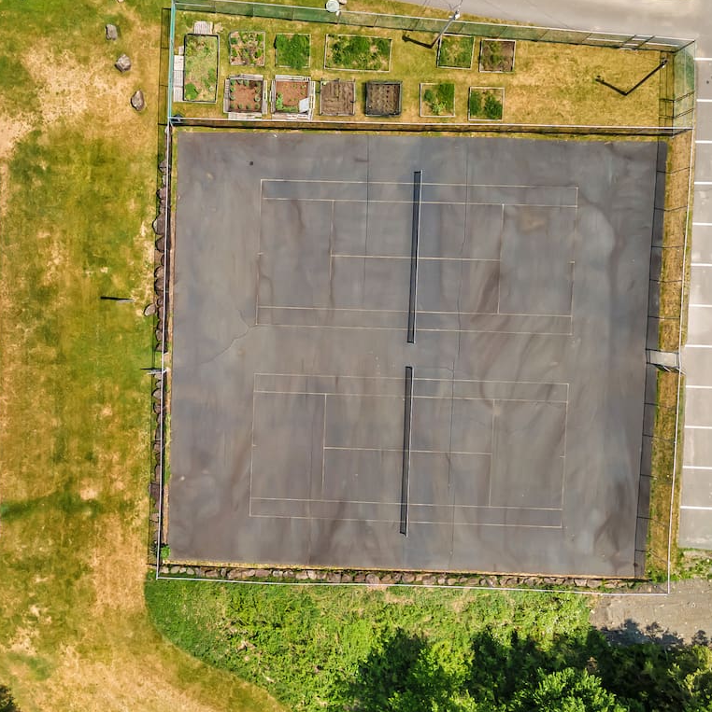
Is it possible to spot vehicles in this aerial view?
No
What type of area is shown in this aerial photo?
sports ground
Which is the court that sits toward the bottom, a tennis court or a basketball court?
tennis court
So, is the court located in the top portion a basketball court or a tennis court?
tennis court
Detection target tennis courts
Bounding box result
[172,132,666,369]
[167,354,656,578]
